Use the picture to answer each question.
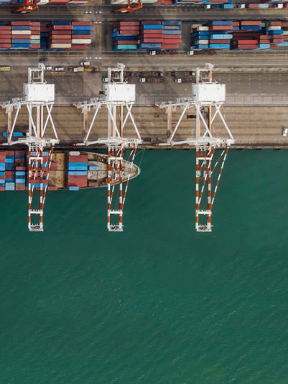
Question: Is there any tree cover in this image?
No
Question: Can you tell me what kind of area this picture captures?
port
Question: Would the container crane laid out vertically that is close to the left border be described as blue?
No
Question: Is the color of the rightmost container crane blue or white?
white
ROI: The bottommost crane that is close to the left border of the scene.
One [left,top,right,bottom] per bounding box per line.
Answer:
[0,63,59,232]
